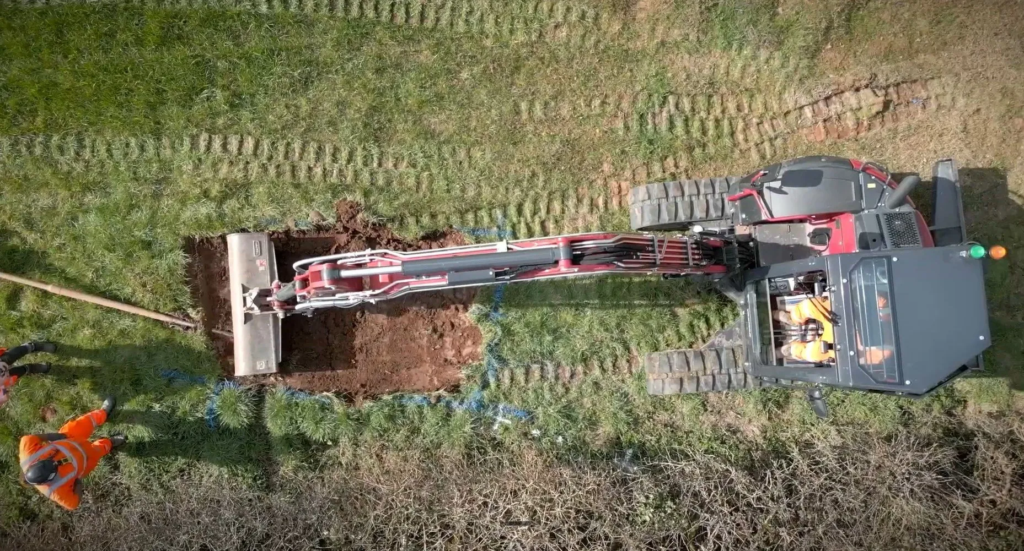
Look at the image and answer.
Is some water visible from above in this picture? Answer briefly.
No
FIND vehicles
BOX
[227,151,1006,420]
